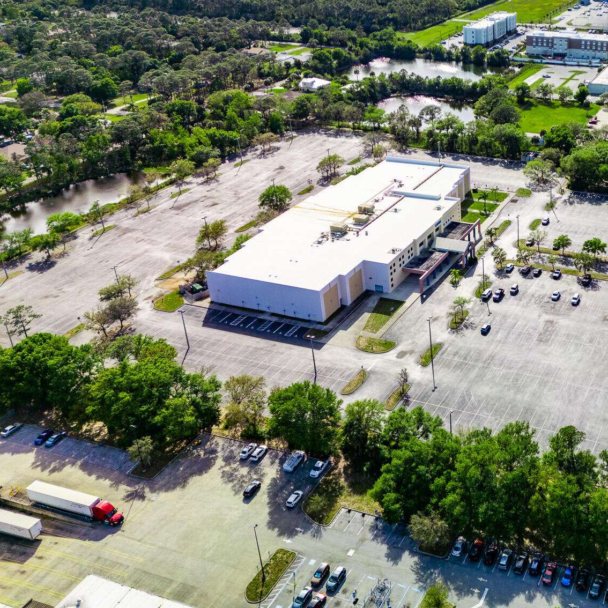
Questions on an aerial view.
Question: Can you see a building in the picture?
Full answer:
Yes, a building can be made out from above.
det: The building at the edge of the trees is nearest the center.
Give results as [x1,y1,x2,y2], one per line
[209,153,479,321]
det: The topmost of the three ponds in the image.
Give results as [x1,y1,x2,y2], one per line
[342,57,525,84]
